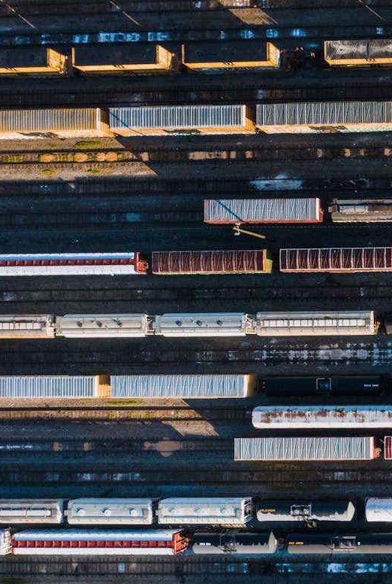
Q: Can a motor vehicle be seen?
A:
Yes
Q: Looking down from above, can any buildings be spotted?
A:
No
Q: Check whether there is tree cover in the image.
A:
No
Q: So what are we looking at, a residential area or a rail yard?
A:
rail yard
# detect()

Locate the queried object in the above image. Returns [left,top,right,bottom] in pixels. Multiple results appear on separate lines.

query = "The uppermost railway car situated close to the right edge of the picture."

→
[256,101,392,134]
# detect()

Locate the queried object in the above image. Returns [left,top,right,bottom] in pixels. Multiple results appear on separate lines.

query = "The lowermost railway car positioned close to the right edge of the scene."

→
[286,526,392,555]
